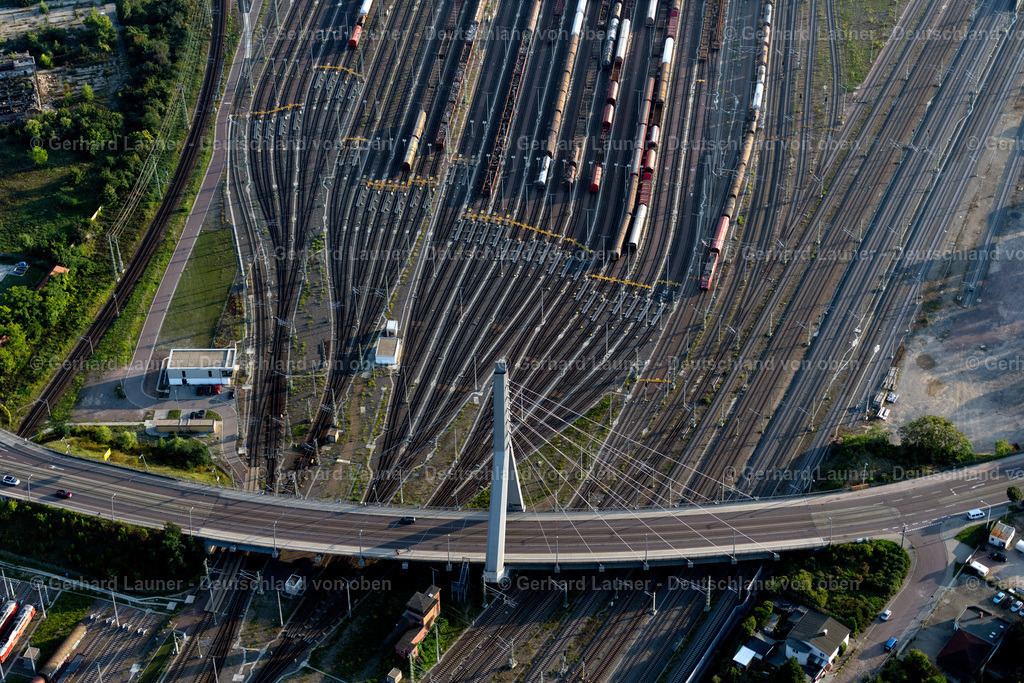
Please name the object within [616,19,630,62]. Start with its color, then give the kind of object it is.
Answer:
white rail car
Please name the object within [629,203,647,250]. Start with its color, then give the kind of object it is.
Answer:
white rail car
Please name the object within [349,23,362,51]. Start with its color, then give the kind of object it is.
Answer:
red rail car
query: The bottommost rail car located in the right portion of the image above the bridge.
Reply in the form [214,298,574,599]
[701,252,718,292]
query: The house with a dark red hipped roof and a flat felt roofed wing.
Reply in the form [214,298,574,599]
[936,602,1010,683]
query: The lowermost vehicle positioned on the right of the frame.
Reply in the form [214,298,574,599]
[883,639,899,654]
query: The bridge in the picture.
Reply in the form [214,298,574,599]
[0,357,904,600]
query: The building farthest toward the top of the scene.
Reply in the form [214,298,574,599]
[0,41,43,116]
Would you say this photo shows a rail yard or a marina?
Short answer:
rail yard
